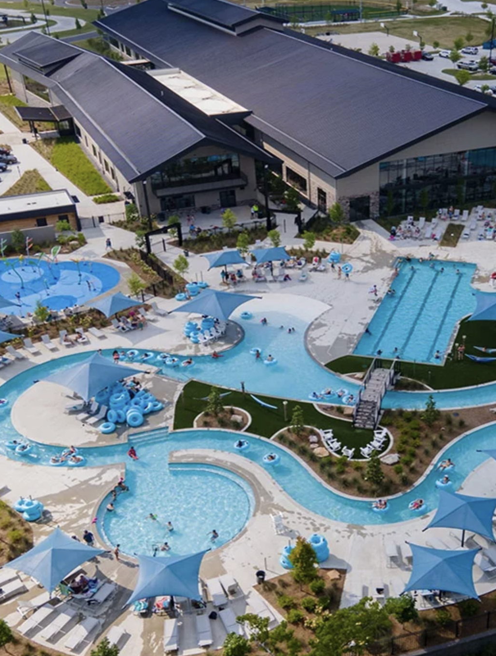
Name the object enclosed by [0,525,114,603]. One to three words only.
umbrella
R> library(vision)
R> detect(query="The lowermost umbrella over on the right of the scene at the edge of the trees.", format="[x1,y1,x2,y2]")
[399,540,484,604]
